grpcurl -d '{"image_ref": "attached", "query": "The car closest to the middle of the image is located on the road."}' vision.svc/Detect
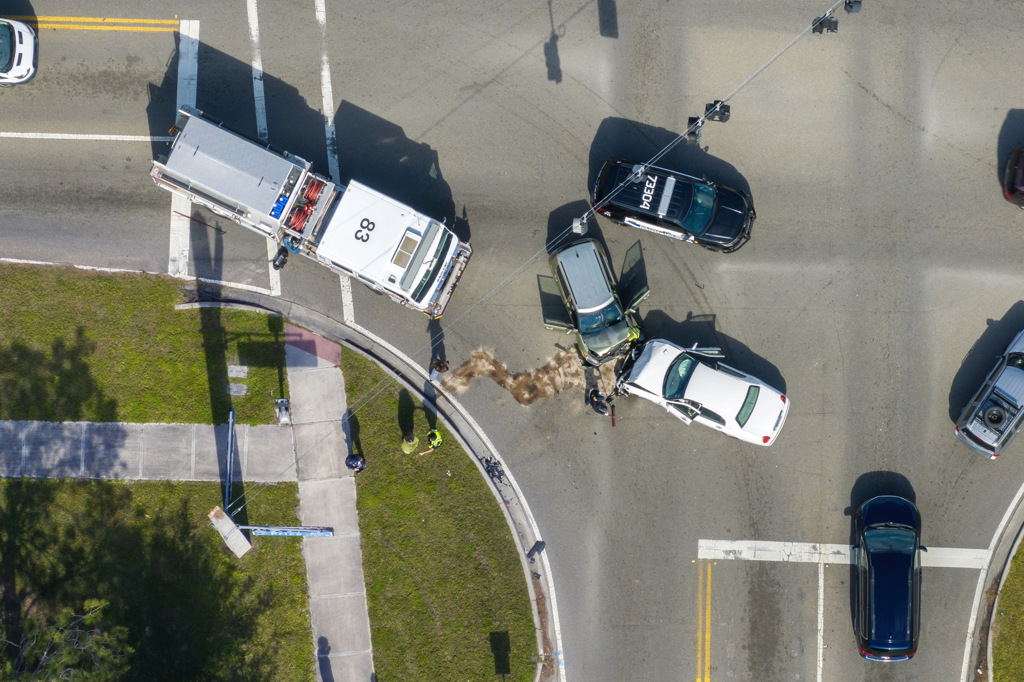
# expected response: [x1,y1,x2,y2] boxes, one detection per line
[536,233,646,376]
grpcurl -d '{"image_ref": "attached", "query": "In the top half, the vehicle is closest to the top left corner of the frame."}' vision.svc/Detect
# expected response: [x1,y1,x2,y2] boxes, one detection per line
[0,9,40,85]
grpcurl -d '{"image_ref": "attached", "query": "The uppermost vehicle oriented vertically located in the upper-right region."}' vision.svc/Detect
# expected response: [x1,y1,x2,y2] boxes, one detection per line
[997,148,1024,213]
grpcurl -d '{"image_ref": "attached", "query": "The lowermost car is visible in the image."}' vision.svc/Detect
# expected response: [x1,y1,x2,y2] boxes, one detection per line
[852,494,925,662]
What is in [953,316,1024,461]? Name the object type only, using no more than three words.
car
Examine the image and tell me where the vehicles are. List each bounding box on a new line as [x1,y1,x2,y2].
[0,9,40,85]
[997,148,1024,213]
[619,335,793,445]
[536,233,646,376]
[148,104,474,320]
[590,155,757,256]
[852,494,925,662]
[953,316,1024,461]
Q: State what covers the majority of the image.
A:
paved ground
